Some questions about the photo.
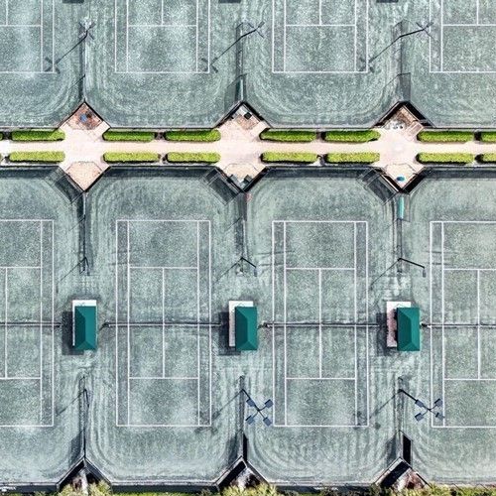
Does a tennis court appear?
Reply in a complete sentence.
Yes, I can see a tennis court in this picture.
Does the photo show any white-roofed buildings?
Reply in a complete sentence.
No, there appears to be no white-roofed building in this shot.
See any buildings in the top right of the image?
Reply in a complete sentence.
No, the scene shows no building in the top right of the image.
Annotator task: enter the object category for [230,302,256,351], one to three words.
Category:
building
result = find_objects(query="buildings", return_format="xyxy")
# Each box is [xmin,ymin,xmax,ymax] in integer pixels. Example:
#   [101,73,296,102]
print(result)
[388,302,418,351]
[73,302,96,351]
[230,302,256,351]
